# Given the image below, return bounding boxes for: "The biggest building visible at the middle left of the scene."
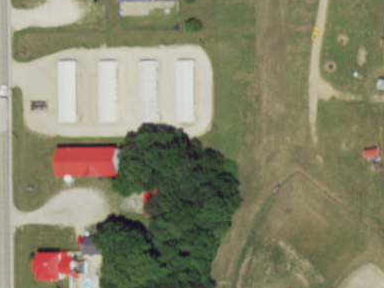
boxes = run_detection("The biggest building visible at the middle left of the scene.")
[53,147,118,176]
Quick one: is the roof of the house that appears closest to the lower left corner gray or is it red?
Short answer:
red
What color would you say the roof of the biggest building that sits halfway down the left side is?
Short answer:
red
